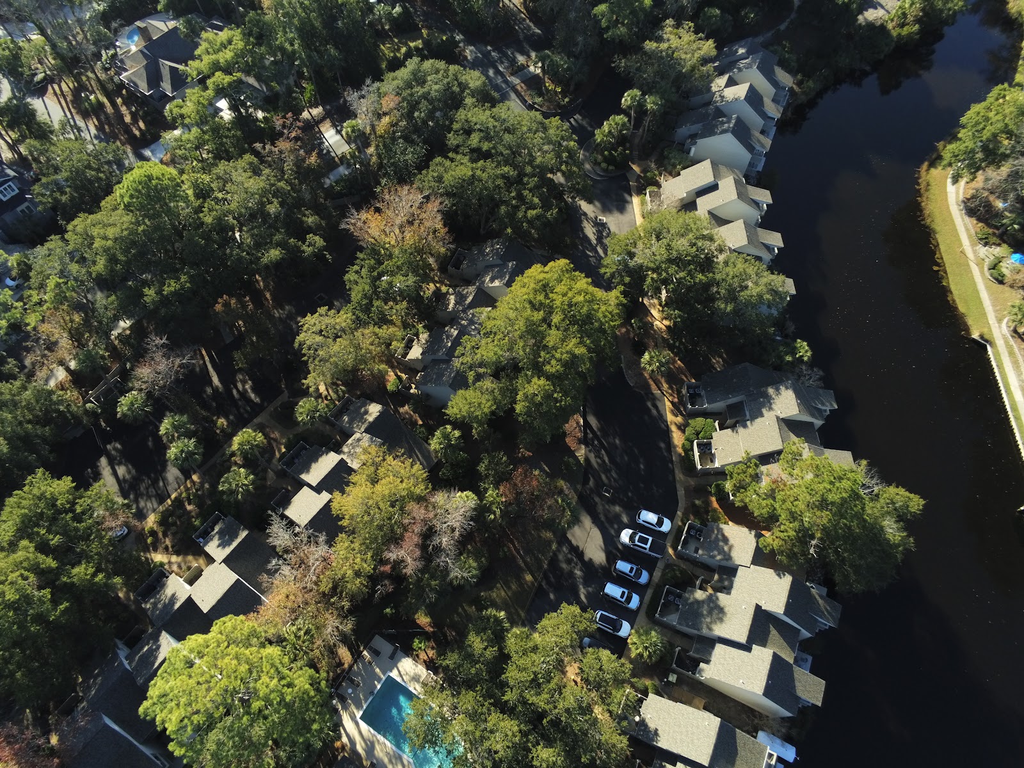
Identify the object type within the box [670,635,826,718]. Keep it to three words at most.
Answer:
house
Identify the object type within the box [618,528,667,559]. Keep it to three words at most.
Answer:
truck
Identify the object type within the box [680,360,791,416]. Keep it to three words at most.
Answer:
house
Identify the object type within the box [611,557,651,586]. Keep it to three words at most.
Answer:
car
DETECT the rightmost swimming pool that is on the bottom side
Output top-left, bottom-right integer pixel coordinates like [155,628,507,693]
[355,669,463,768]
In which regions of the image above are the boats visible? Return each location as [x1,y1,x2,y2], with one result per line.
[755,727,803,761]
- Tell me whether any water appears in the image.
Yes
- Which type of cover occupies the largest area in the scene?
trees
